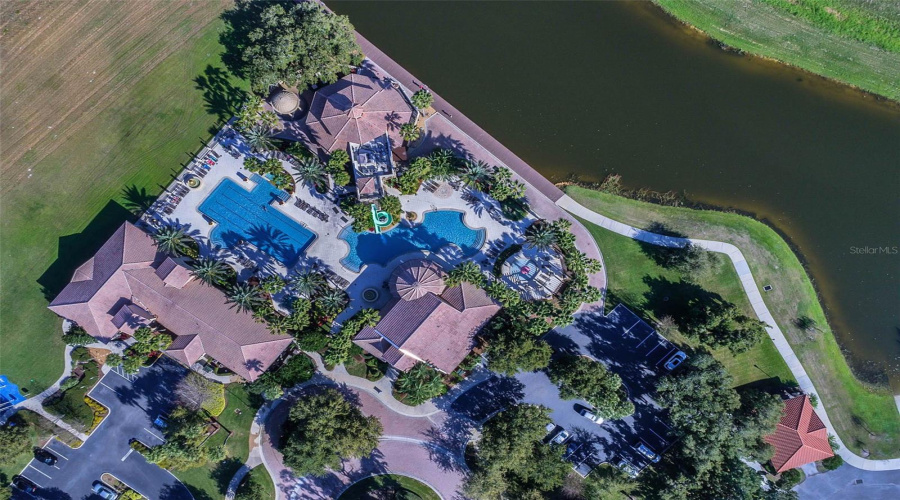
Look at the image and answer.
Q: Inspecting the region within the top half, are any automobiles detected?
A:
No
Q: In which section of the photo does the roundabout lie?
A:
bottom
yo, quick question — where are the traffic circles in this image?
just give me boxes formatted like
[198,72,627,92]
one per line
[261,382,468,500]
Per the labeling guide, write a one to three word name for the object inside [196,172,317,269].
swimming pool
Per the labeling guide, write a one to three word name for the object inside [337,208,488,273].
swimming pool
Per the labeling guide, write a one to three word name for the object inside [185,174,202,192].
fountain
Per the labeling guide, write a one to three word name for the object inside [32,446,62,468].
car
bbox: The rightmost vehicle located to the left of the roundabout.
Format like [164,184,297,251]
[147,409,173,432]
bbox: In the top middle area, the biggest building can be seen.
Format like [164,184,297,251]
[305,73,412,160]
